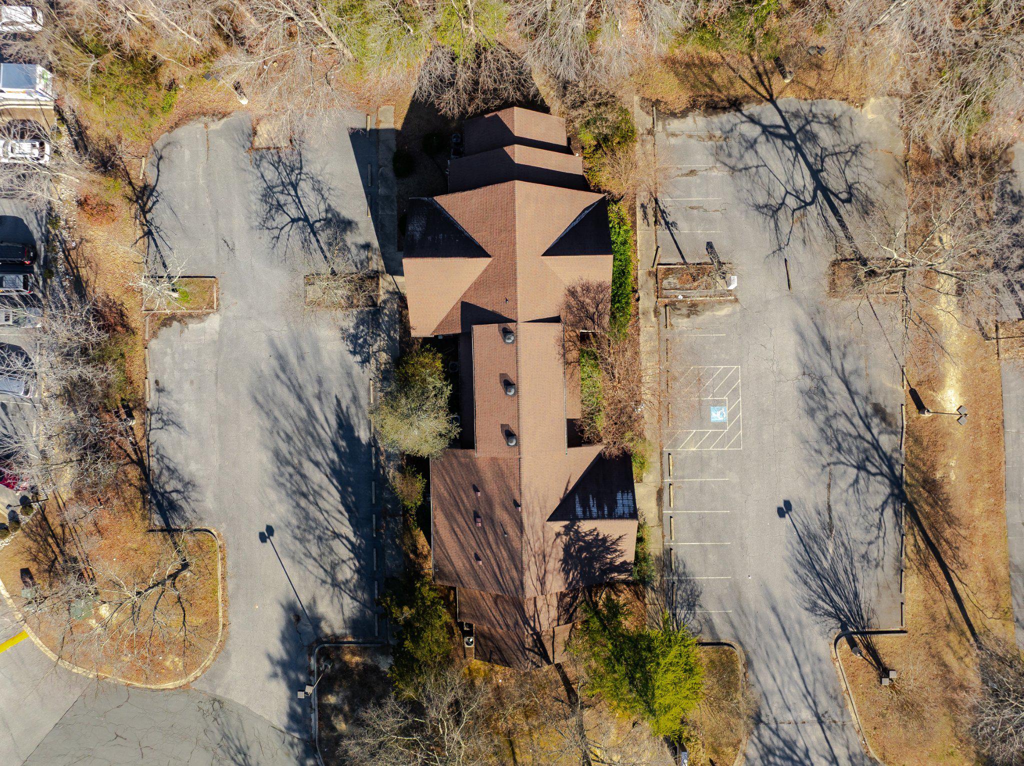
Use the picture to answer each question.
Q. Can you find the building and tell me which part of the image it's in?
center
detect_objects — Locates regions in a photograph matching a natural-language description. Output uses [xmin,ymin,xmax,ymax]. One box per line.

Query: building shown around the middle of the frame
[404,107,638,670]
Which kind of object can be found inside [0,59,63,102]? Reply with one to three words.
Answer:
truck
